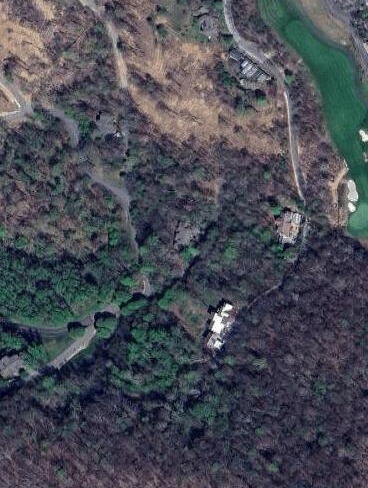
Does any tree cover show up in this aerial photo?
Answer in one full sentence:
Yes, the picture does contain tree cover.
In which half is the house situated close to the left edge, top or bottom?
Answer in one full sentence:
The house situated close to the left edge is in the bottom half of the image.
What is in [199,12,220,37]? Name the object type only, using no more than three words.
house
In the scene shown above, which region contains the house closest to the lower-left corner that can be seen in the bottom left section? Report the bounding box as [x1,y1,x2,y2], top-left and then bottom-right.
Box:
[1,354,24,377]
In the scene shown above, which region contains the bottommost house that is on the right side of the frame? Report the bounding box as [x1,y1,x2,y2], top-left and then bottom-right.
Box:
[207,303,238,346]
